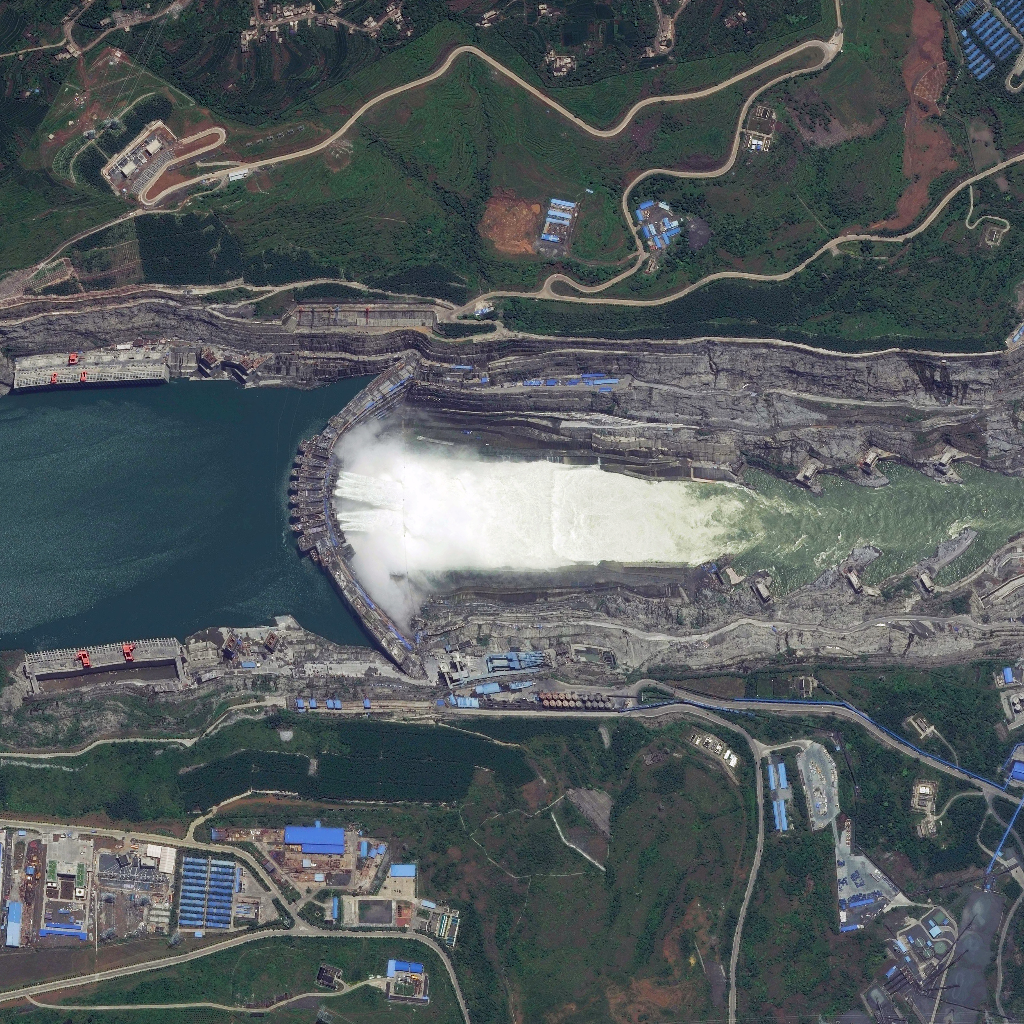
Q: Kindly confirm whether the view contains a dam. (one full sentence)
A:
Yes, there's a dam down there.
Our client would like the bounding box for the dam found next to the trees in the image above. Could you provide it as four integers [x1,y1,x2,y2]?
[289,353,429,680]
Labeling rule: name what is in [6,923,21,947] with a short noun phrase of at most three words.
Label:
building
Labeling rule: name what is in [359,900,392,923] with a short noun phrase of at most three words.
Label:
sports field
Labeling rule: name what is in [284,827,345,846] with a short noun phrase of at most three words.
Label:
building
